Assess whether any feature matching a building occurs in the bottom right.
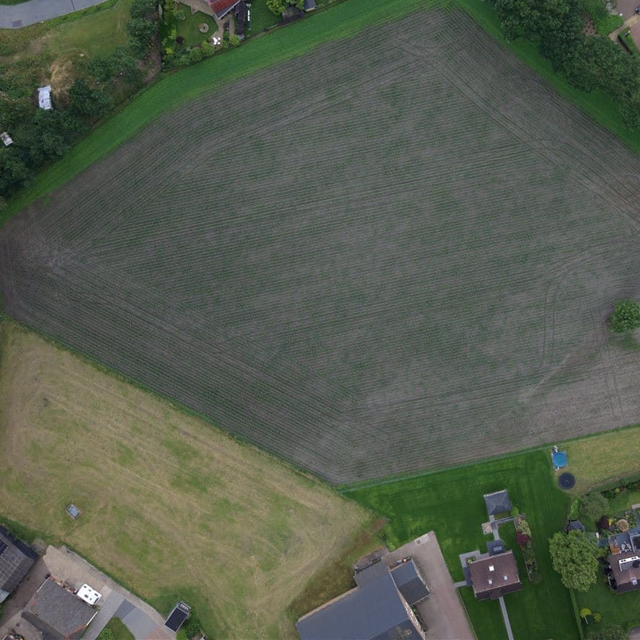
Yes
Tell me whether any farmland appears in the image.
Yes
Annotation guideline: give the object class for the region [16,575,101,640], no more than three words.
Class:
house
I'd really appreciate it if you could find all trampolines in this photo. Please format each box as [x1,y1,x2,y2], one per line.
[558,472,575,489]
